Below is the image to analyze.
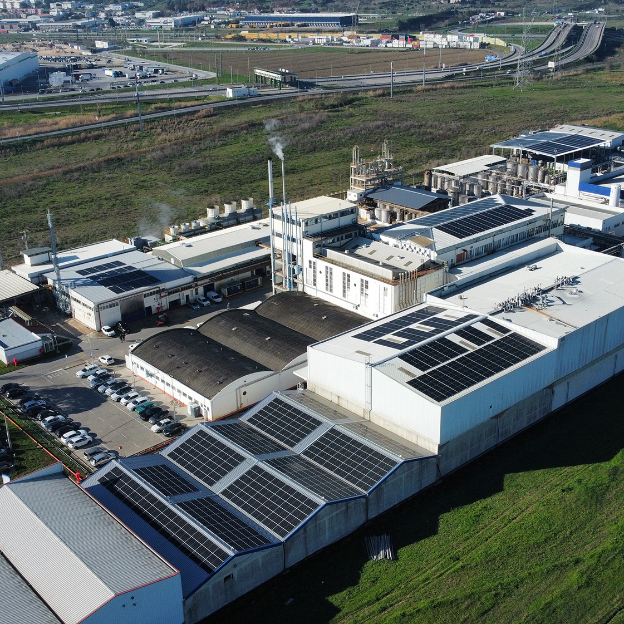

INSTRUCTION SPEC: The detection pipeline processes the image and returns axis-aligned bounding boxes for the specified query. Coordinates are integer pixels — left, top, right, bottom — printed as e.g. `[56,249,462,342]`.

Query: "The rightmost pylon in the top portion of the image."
[551,25,571,72]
